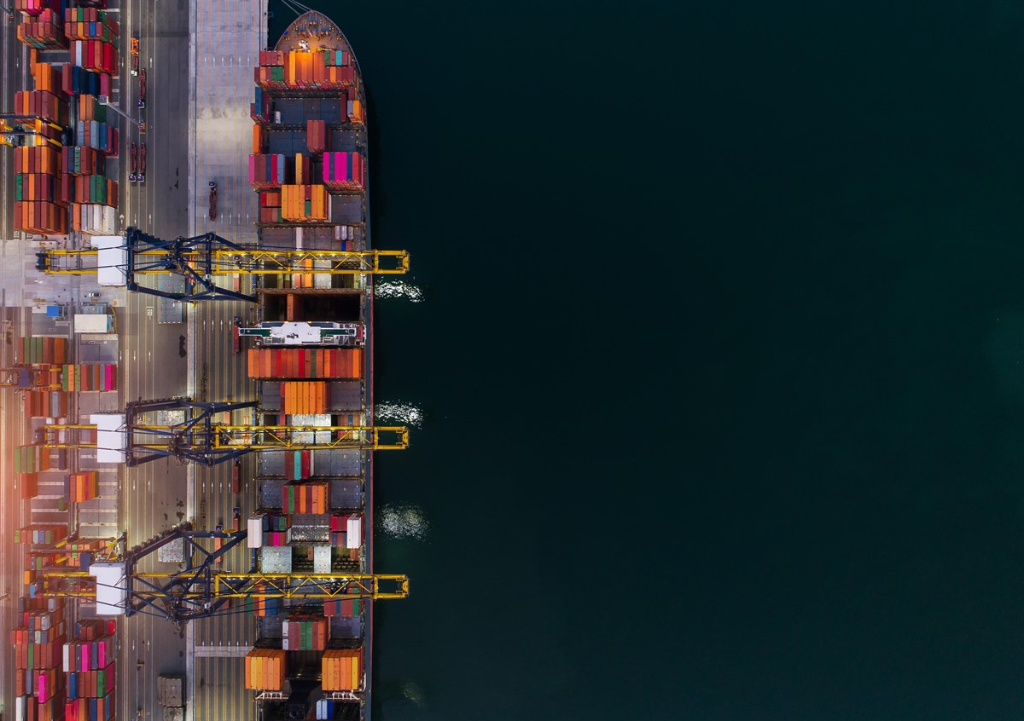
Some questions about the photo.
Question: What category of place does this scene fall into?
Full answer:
The area seen from above is a port.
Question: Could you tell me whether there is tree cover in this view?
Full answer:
No, the picture contains no tree cover.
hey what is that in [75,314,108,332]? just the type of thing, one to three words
shed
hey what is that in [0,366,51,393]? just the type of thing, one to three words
container crane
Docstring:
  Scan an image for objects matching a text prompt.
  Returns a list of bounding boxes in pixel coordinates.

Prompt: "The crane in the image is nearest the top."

[0,114,44,150]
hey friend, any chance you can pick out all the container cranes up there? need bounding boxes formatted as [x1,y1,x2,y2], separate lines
[36,516,410,626]
[36,221,410,312]
[36,391,410,468]
[41,537,120,570]
[0,366,51,393]
[0,114,44,150]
